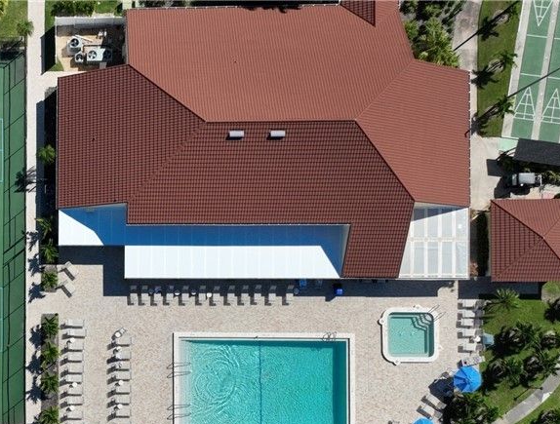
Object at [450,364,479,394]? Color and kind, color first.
blue umbrella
